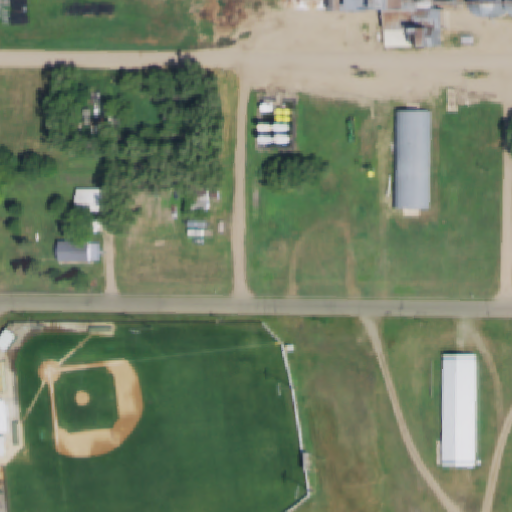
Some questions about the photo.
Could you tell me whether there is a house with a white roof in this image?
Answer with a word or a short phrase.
Yes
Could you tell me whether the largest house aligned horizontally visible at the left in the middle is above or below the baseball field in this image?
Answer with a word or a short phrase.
above it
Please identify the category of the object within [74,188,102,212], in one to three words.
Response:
house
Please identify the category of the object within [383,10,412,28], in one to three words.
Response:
barn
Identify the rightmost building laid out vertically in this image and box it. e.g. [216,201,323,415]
[442,354,475,466]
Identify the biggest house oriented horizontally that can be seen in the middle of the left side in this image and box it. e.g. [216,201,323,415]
[56,242,104,264]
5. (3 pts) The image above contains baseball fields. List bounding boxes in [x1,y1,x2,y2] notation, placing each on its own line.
[6,322,306,512]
